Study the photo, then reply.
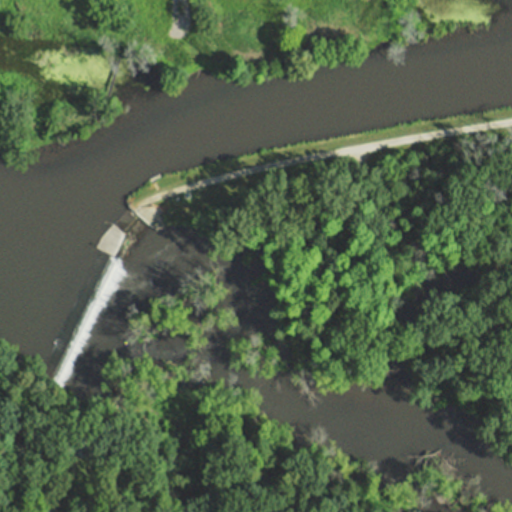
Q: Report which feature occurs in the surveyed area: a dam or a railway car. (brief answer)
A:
dam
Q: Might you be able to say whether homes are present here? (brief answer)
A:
No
